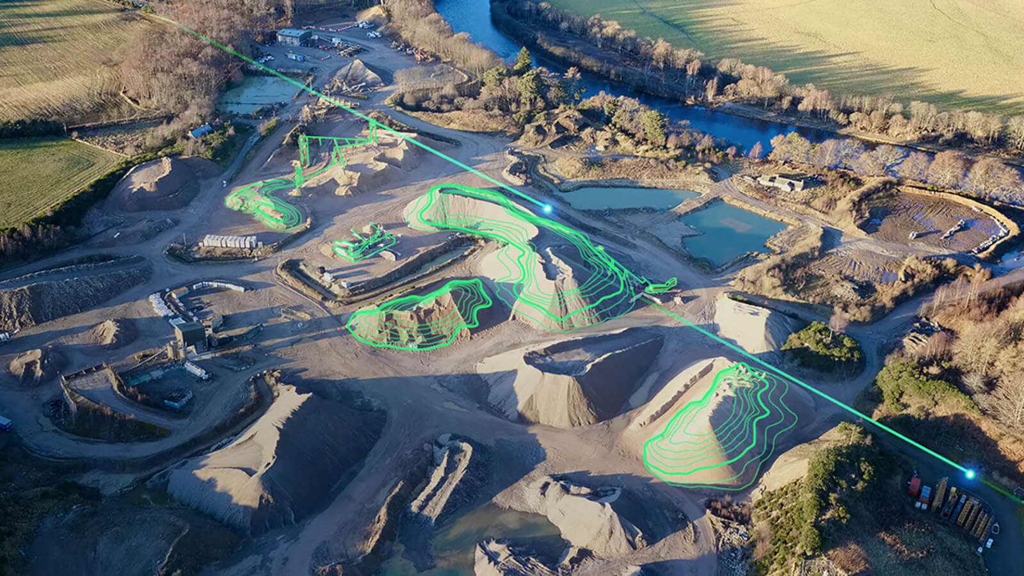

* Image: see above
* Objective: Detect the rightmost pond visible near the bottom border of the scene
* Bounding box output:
[378,504,557,576]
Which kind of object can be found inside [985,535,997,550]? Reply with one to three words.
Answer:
vehicle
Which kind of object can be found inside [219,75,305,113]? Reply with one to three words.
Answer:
pond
